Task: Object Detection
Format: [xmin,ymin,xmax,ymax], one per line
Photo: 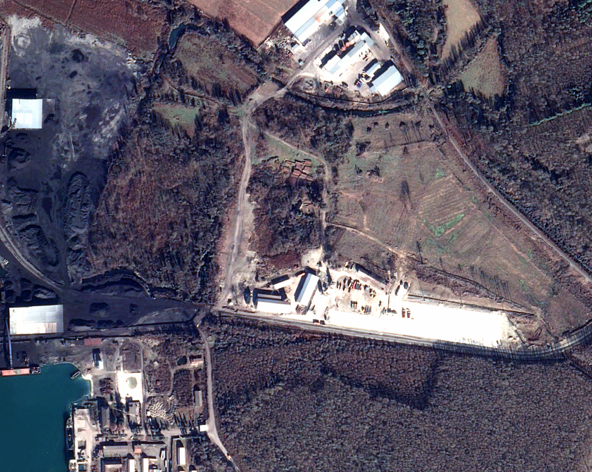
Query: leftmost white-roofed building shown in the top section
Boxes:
[10,98,42,128]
